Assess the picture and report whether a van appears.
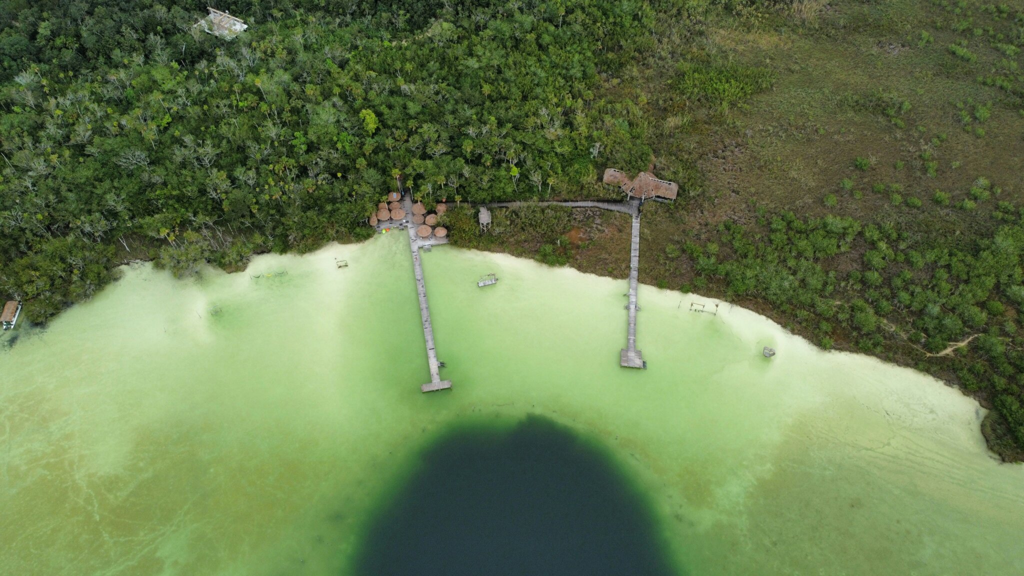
No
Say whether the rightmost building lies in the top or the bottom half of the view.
top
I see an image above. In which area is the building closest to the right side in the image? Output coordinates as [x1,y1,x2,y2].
[603,168,678,212]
